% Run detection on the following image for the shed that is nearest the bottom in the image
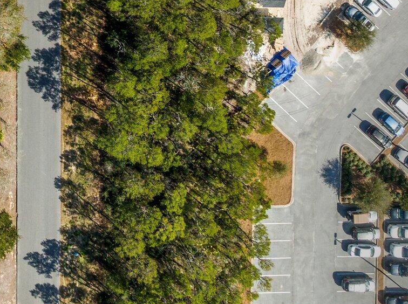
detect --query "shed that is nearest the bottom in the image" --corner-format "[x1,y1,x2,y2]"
[255,17,285,33]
